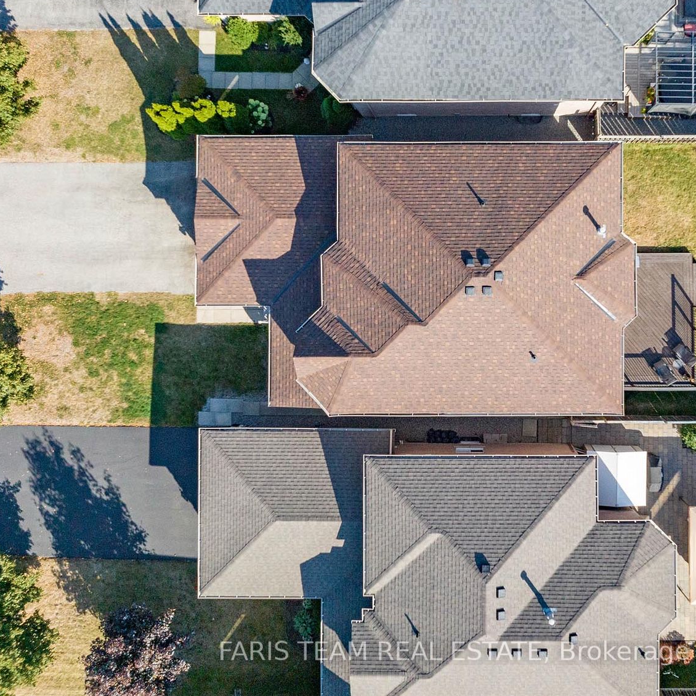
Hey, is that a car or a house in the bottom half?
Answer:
house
